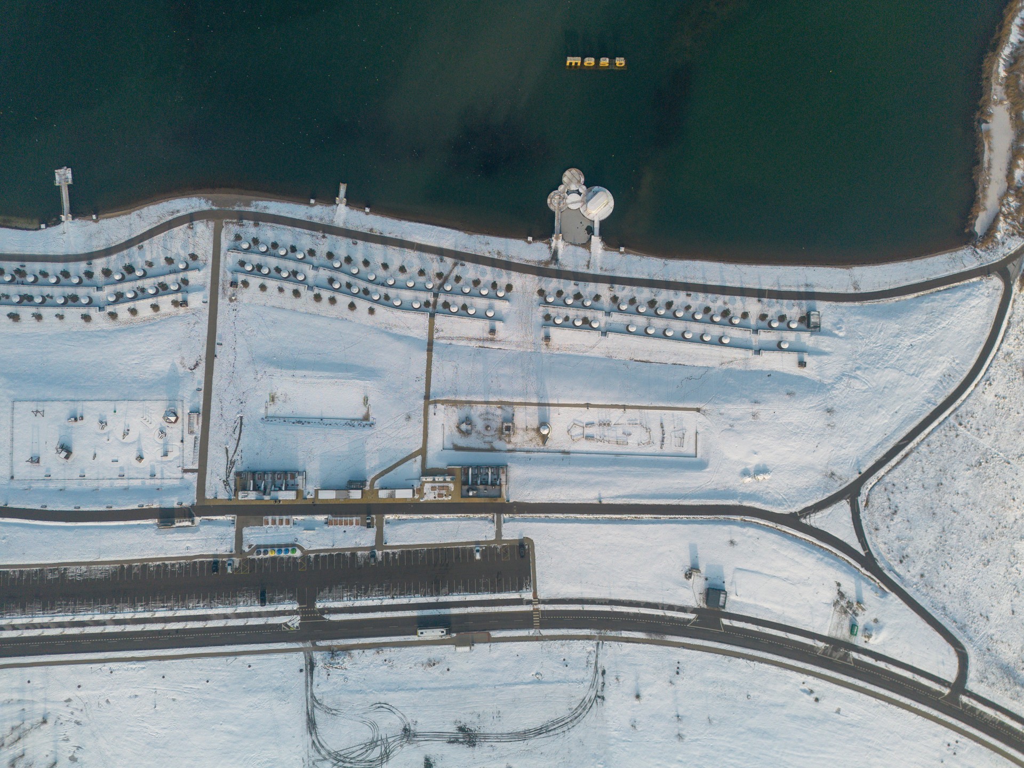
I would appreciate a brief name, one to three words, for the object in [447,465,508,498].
building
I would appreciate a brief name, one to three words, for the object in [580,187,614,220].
pier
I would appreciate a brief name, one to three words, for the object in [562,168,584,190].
pier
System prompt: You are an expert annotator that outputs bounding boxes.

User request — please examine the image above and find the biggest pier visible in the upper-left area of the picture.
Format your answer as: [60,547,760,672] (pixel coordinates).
[53,166,73,221]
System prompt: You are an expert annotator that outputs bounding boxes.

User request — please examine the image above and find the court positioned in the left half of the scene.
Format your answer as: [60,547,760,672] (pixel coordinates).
[265,396,371,422]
